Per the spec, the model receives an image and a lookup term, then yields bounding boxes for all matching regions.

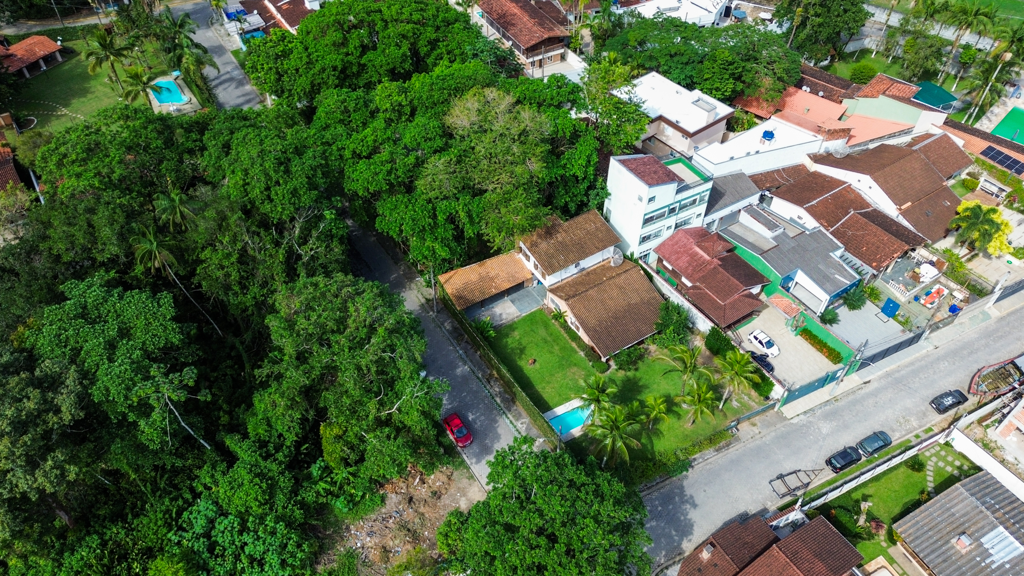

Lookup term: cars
[820,445,866,476]
[851,429,896,460]
[744,327,784,361]
[925,389,971,415]
[442,409,474,452]
[744,344,780,376]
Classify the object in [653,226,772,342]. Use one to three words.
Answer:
house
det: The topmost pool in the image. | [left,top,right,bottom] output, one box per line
[149,77,202,116]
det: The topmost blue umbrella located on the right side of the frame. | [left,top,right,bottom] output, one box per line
[728,9,750,22]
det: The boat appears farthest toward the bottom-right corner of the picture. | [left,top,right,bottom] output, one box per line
[966,352,1024,401]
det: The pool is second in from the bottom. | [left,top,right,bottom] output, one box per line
[989,103,1024,144]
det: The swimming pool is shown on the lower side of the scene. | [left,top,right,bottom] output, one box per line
[546,393,612,442]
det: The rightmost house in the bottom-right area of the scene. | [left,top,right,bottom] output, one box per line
[980,394,1024,477]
